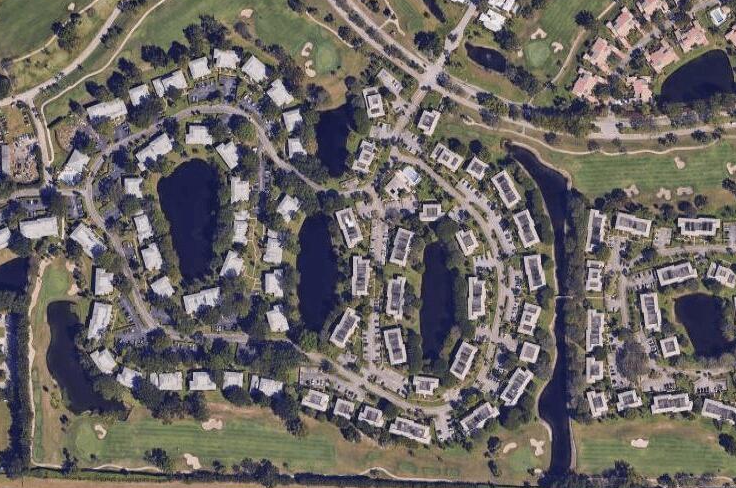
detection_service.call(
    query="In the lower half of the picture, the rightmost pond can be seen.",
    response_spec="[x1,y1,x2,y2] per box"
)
[675,293,729,357]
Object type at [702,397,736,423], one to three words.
building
